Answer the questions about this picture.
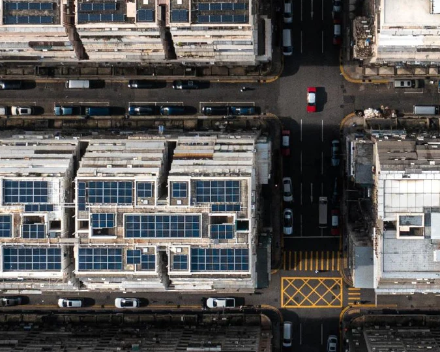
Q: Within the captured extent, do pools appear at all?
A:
No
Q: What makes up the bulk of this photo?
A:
buildings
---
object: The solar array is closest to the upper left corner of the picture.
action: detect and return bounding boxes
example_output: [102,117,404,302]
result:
[9,3,58,21]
